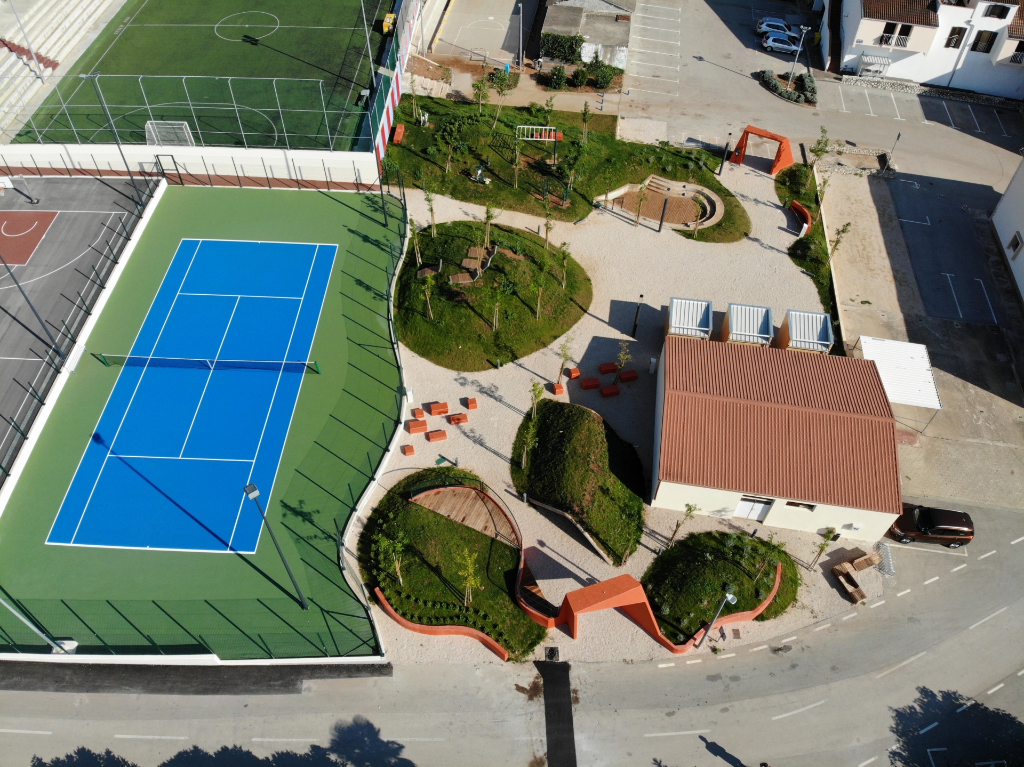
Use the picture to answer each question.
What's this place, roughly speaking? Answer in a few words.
sports ground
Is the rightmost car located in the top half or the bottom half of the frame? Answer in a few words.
bottom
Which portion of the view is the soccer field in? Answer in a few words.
top left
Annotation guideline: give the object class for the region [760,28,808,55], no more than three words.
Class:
car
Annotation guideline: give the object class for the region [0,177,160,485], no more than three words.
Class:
basketball court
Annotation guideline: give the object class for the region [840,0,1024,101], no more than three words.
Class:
house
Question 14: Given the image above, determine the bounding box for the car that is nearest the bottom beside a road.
[887,501,980,551]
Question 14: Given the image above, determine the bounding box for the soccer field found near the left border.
[13,0,388,150]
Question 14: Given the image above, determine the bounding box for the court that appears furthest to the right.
[437,0,540,65]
